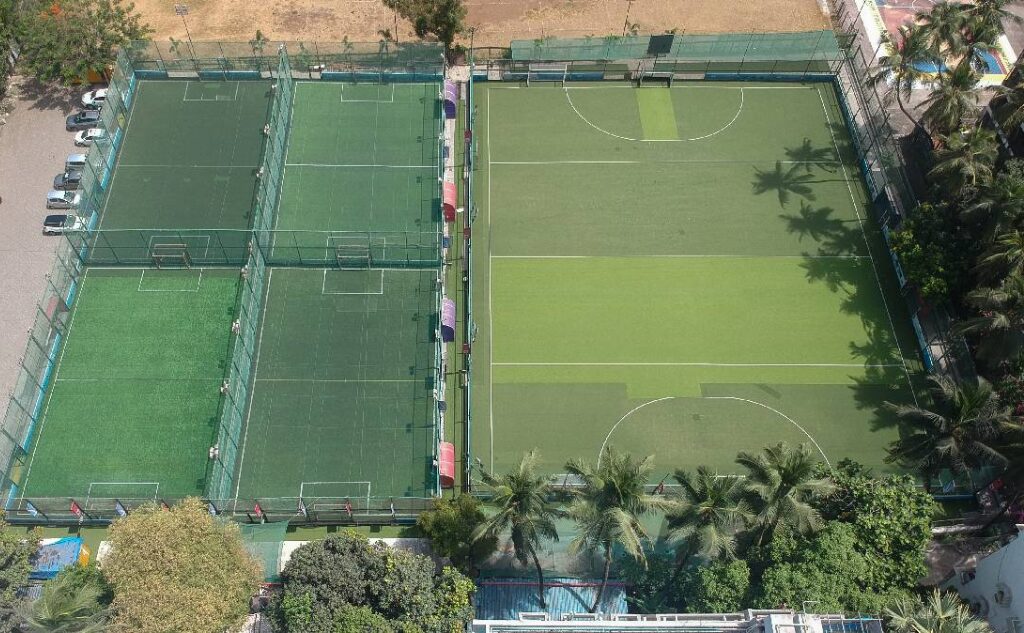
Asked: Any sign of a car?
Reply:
Yes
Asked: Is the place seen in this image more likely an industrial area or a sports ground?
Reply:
sports ground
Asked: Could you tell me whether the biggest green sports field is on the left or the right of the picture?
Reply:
right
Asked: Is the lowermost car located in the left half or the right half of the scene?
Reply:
left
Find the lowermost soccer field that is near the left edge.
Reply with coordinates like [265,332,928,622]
[7,266,266,520]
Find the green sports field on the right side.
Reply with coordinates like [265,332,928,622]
[471,78,977,507]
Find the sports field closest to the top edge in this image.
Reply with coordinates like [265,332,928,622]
[0,0,832,48]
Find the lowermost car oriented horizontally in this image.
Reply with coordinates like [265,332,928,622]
[39,216,84,237]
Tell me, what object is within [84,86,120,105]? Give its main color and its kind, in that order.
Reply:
white car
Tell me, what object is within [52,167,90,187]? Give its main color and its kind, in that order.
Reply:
gray car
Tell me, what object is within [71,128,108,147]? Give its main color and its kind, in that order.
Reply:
white car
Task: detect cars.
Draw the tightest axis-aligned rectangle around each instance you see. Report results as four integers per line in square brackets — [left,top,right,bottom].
[67,107,108,128]
[84,86,120,105]
[43,190,84,210]
[64,149,102,168]
[71,128,108,147]
[52,167,90,187]
[39,216,84,237]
